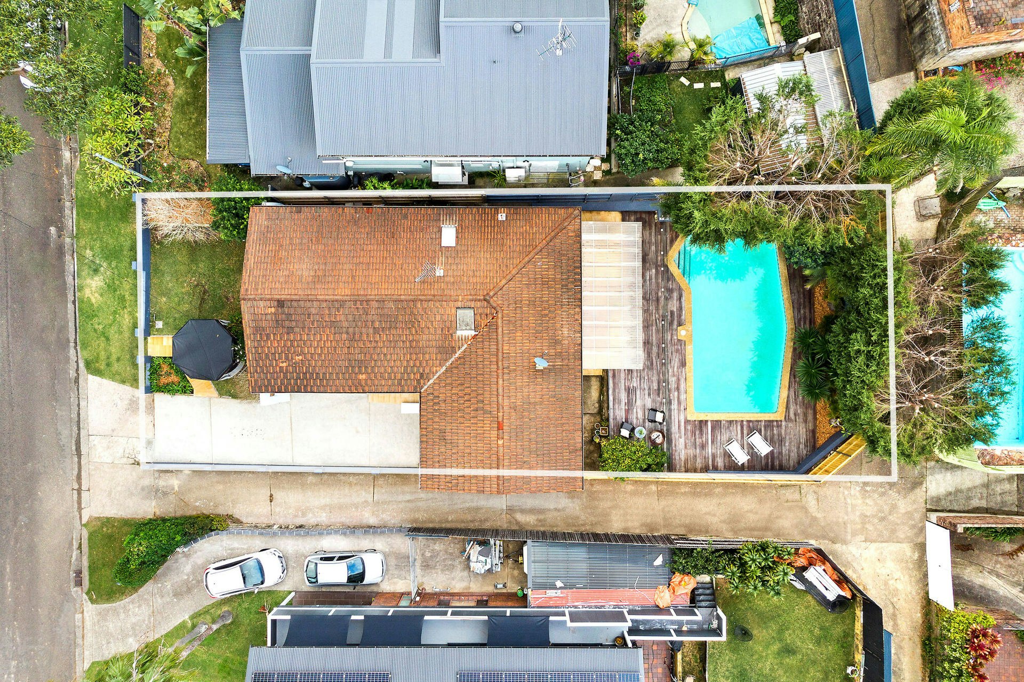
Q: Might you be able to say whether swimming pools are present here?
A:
Yes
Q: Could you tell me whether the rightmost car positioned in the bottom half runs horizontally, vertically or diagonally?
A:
horizontally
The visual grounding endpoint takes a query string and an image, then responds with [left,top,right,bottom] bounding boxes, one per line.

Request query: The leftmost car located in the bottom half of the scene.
[199,549,290,601]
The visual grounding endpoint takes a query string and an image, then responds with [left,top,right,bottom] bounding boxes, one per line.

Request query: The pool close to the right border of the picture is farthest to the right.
[960,245,1024,450]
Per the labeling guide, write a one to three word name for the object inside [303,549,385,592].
car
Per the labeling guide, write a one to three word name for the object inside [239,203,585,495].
house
